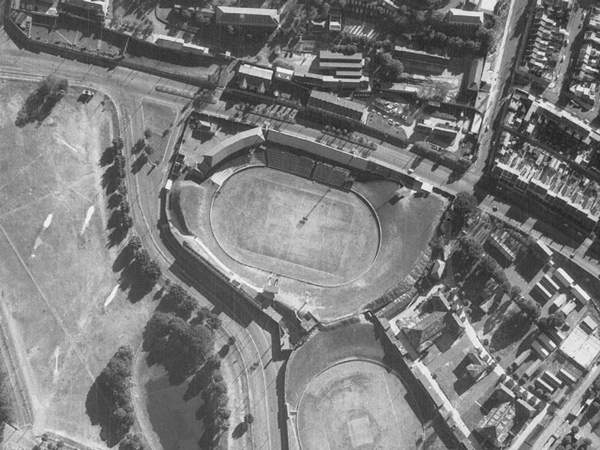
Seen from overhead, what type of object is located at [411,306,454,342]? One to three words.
building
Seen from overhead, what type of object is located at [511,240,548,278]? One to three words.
building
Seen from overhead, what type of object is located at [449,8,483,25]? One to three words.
house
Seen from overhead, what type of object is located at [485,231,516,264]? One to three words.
house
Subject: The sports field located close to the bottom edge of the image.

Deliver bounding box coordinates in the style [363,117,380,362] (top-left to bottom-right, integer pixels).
[286,318,458,450]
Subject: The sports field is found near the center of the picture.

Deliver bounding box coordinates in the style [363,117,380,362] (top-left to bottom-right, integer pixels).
[210,166,380,287]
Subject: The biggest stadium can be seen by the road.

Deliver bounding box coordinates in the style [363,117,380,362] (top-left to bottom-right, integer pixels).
[167,107,452,352]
